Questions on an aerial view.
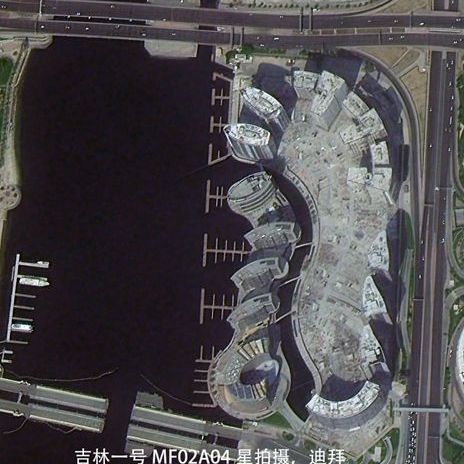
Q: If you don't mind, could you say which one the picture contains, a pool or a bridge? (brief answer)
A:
bridge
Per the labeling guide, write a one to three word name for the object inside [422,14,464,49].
overpass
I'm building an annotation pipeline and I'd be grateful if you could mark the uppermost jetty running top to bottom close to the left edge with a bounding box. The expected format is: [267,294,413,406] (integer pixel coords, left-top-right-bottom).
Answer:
[0,254,48,344]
